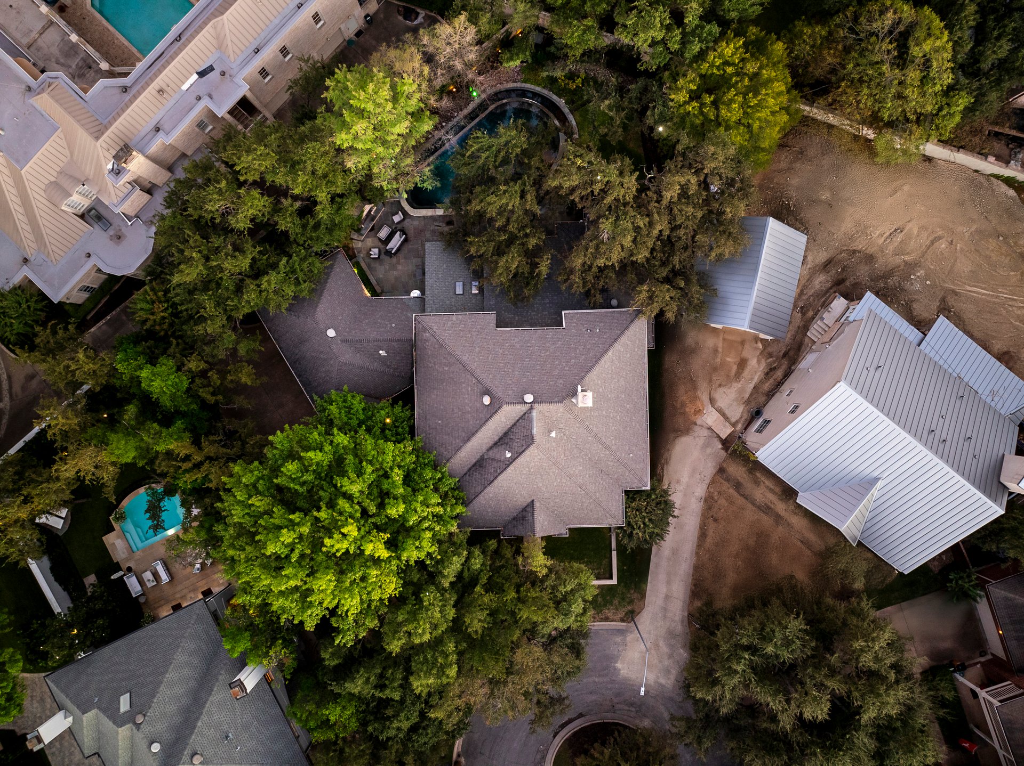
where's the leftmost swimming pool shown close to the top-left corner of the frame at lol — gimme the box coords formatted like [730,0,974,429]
[86,0,202,62]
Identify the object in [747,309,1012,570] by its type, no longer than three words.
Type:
house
